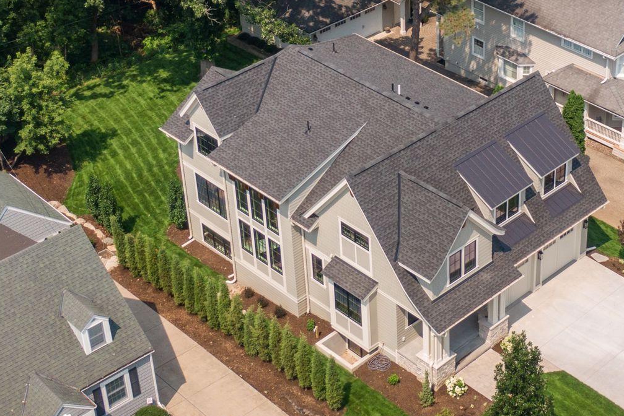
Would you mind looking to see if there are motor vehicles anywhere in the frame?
No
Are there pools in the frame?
No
